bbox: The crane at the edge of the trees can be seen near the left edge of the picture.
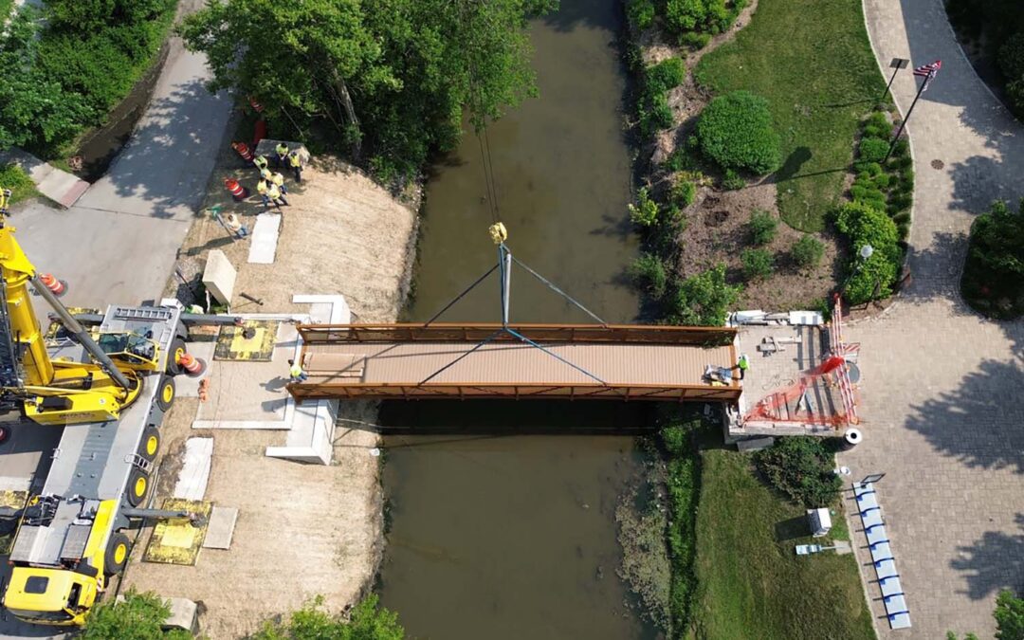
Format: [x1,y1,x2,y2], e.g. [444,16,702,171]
[0,225,257,631]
